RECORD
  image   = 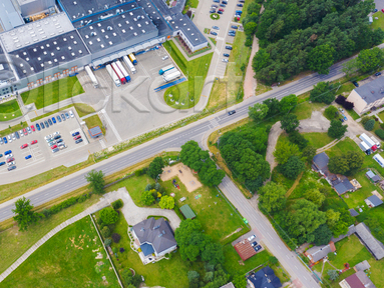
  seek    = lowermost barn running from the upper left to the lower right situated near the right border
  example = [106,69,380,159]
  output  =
[354,222,384,260]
